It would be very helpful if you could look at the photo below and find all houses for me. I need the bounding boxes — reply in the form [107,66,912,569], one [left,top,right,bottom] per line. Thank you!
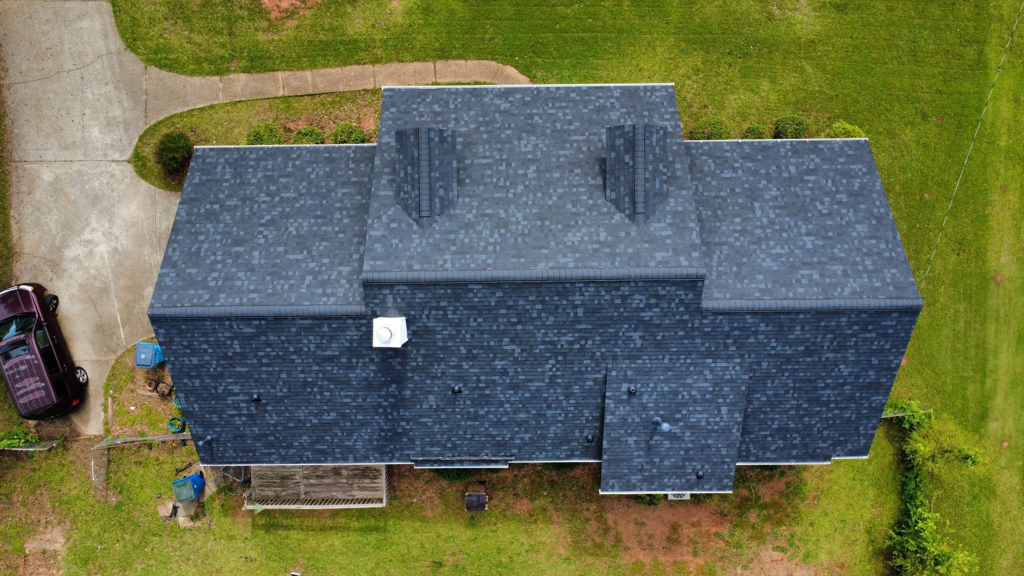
[147,80,925,494]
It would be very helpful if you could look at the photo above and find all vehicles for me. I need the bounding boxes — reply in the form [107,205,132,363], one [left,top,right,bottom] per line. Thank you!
[0,282,91,422]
